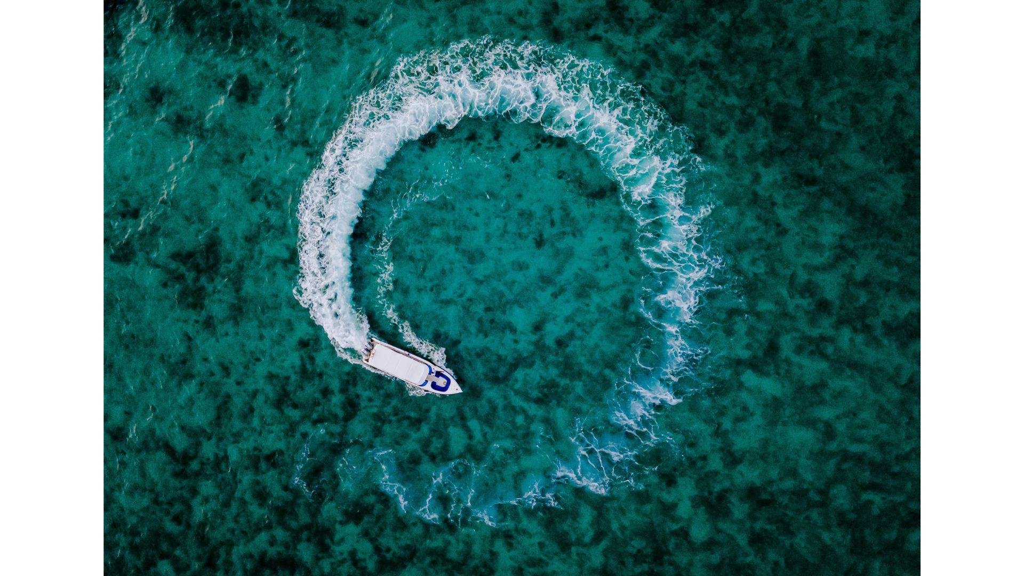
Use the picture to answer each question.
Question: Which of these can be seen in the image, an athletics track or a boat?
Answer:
boat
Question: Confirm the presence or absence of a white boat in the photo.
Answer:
Yes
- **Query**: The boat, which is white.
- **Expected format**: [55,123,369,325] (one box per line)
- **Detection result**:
[361,337,463,394]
